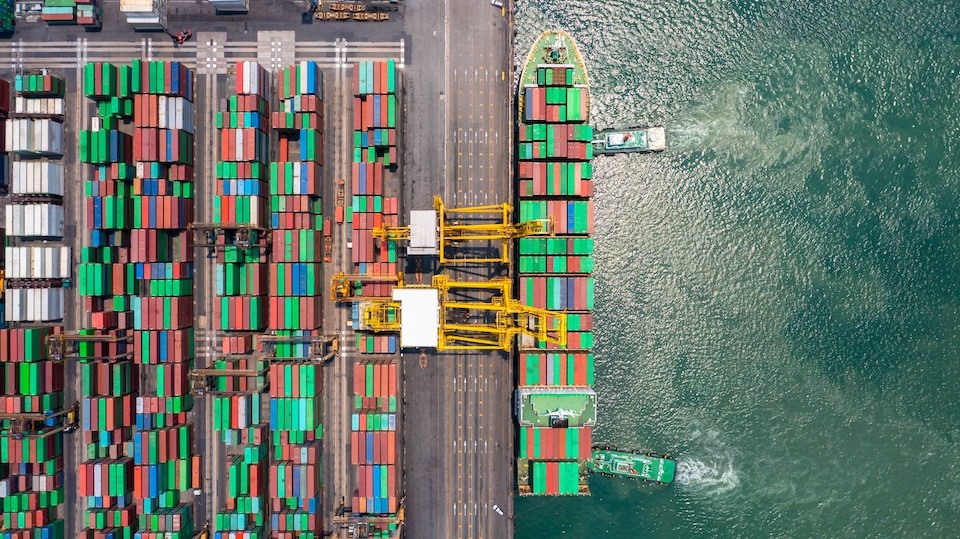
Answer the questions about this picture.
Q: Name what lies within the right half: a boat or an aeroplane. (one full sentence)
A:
You can see a boat within the right half.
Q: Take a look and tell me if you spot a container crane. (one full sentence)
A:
Yes, a container crane can be made out from above.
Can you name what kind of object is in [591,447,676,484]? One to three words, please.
boat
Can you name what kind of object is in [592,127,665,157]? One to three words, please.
boat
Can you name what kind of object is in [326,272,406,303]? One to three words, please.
container crane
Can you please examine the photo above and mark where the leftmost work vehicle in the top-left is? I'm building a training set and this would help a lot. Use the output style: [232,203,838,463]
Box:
[162,30,190,48]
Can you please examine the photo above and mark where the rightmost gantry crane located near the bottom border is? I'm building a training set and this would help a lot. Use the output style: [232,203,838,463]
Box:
[327,494,407,539]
